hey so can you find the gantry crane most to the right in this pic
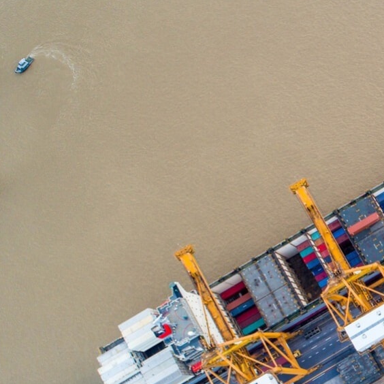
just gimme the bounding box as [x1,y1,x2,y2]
[288,178,384,366]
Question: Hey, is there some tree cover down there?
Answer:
No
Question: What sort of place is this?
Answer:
port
